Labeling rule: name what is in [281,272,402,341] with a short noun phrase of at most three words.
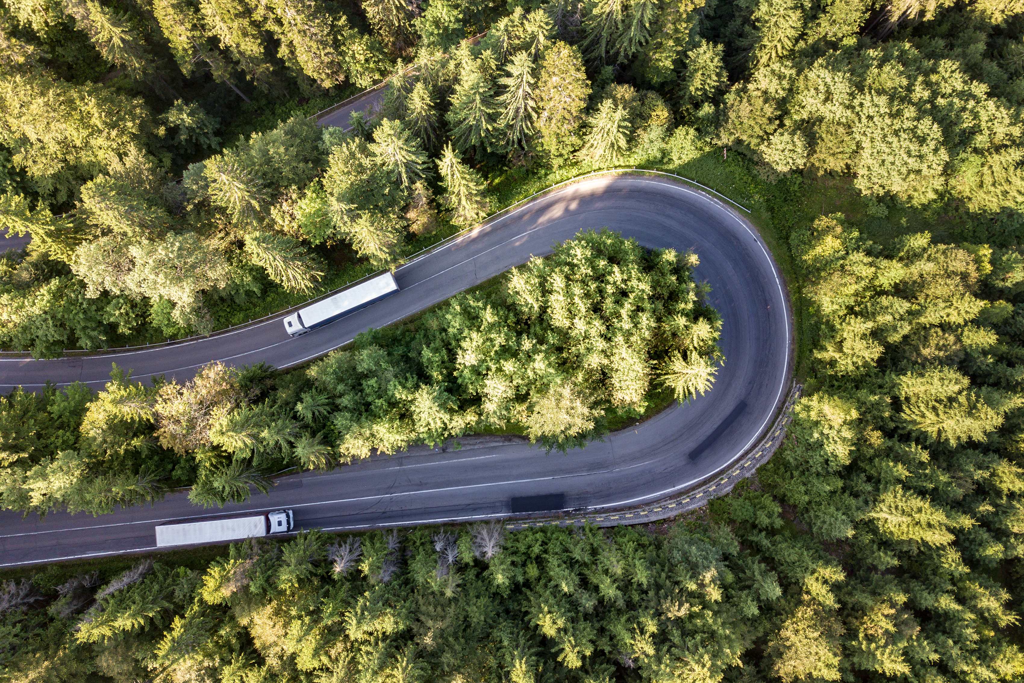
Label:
truck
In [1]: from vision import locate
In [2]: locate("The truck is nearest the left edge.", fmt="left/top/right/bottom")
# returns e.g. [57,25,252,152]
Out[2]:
[153,507,304,548]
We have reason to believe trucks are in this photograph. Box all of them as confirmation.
[281,272,402,341]
[153,507,304,548]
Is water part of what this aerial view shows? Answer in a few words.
No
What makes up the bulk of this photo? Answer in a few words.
trees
